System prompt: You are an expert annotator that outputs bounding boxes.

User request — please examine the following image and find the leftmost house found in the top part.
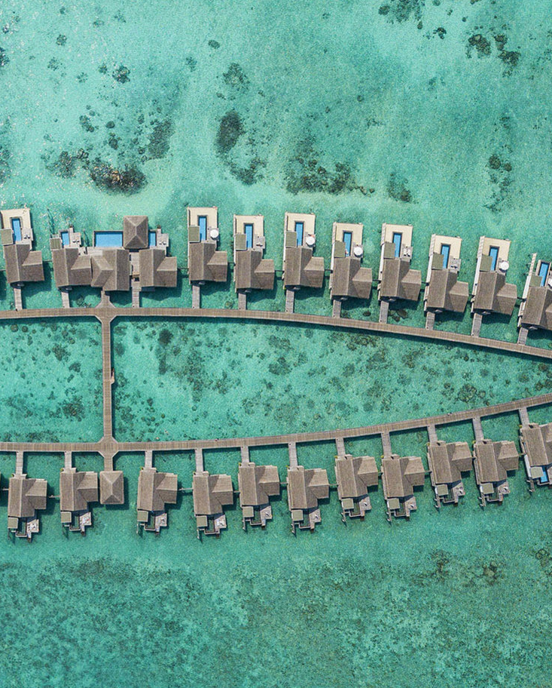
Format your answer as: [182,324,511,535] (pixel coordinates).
[0,205,44,291]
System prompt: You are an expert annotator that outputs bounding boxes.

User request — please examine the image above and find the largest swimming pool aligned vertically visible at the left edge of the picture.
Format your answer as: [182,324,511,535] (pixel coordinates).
[11,216,24,244]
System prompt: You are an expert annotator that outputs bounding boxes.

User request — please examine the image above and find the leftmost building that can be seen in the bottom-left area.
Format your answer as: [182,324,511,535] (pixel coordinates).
[4,471,47,544]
